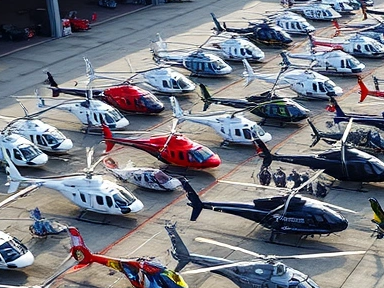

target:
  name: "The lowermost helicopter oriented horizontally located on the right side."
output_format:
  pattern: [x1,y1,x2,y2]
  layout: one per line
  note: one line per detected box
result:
[160,232,364,288]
